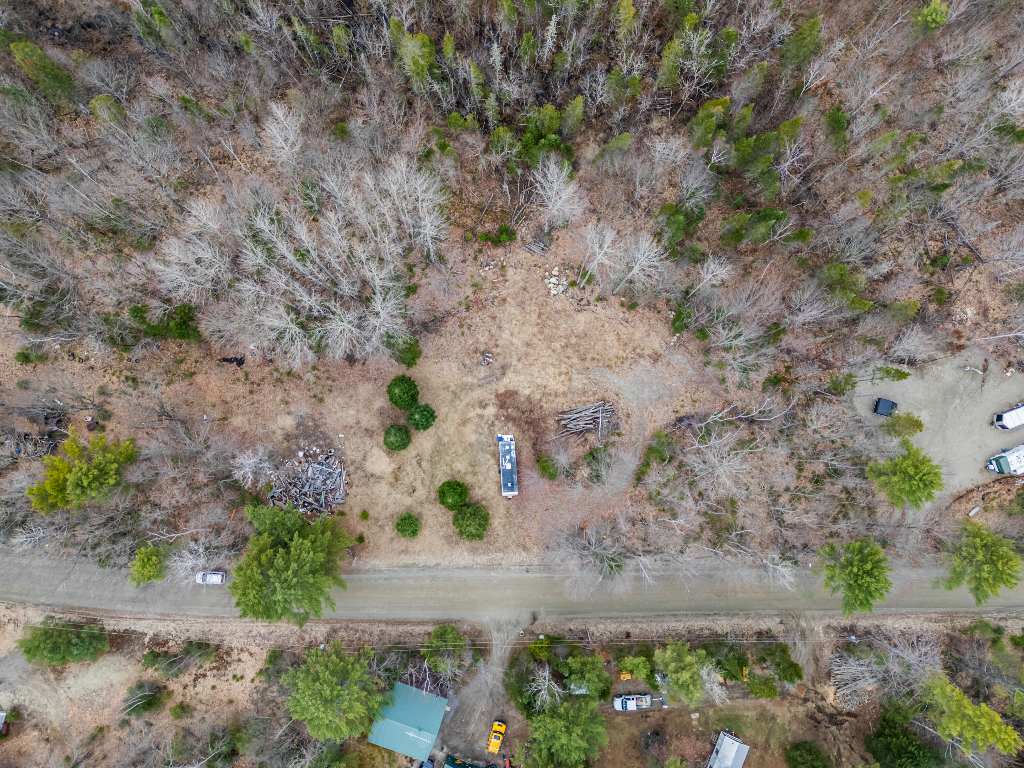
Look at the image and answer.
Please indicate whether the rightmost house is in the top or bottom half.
bottom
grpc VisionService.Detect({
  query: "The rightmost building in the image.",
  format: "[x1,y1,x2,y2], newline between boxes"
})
[705,732,750,768]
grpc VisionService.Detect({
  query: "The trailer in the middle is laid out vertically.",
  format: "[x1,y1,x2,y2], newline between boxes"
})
[499,428,518,496]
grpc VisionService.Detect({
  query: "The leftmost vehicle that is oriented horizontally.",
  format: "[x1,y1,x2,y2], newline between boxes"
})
[196,570,228,586]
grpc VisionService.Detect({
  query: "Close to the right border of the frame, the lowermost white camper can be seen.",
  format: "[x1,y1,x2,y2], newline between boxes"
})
[985,444,1024,474]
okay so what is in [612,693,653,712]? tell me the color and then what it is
white vehicle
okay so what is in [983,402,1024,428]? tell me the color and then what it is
white trailer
